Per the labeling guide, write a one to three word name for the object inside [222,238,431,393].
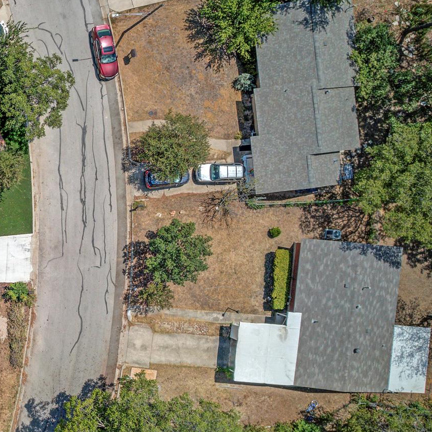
house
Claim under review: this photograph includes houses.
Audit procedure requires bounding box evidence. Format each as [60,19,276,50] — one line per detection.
[222,238,431,393]
[242,0,361,194]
